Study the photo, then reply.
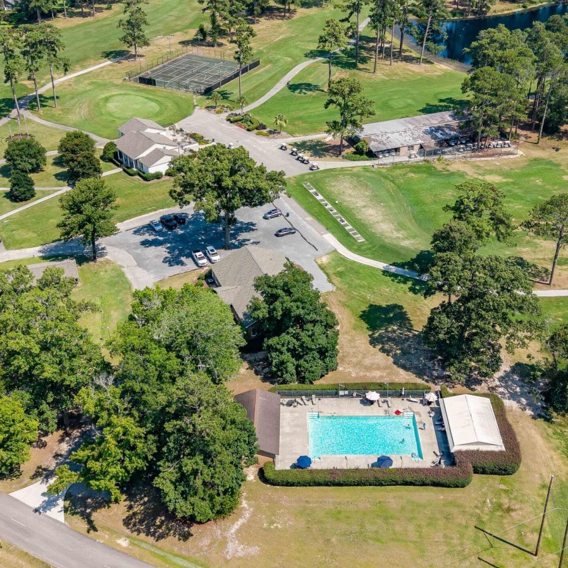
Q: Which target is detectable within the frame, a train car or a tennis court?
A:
tennis court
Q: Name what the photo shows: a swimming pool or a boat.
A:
swimming pool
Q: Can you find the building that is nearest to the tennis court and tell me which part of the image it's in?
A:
top left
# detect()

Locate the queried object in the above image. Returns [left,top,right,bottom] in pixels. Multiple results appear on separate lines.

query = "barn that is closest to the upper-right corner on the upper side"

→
[344,109,489,160]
